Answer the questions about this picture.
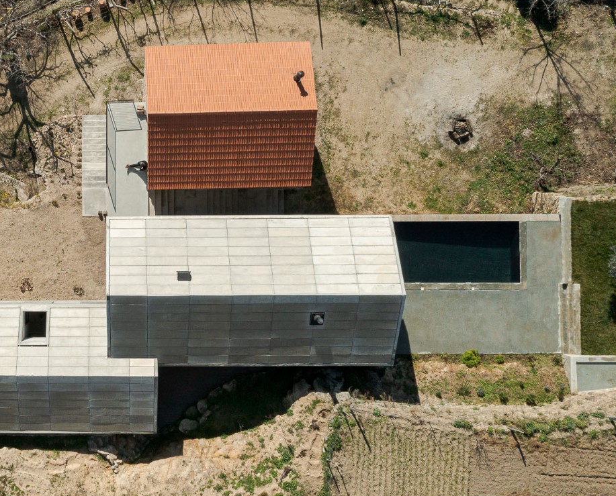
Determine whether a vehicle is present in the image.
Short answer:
No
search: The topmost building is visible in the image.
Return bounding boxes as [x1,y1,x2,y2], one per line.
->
[145,39,318,192]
